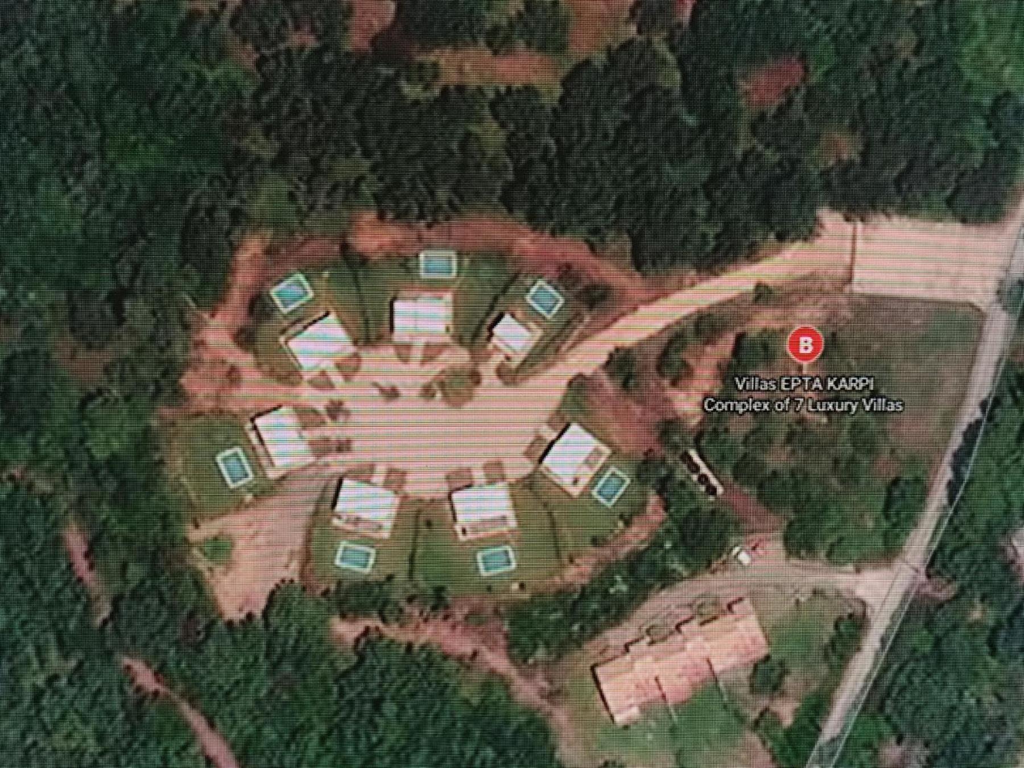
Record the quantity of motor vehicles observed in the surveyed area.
one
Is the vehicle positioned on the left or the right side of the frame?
right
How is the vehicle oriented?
at an angle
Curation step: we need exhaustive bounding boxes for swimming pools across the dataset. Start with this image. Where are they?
[420,251,456,279]
[270,273,313,314]
[591,466,632,508]
[525,279,565,319]
[215,446,253,489]
[477,545,516,576]
[335,540,376,573]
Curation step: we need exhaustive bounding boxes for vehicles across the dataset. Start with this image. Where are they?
[730,544,753,568]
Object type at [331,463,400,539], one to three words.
house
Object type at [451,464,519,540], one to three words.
house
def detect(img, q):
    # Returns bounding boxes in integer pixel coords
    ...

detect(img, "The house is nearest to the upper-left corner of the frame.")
[283,305,356,376]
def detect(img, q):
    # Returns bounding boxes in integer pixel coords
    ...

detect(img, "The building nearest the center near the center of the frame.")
[488,302,544,360]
